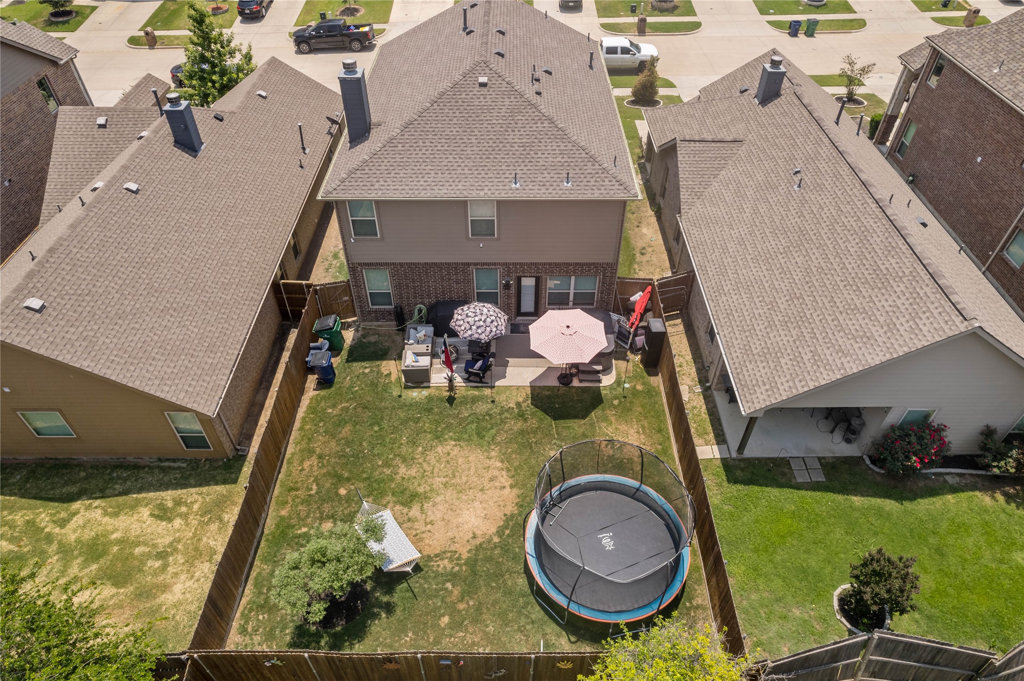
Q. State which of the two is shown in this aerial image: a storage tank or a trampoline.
trampoline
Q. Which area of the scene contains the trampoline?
bottom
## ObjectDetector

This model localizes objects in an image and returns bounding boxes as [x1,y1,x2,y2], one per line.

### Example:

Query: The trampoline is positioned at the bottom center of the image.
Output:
[522,444,698,636]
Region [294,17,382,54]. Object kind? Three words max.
truck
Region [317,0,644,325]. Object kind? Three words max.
house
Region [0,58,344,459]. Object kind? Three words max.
house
